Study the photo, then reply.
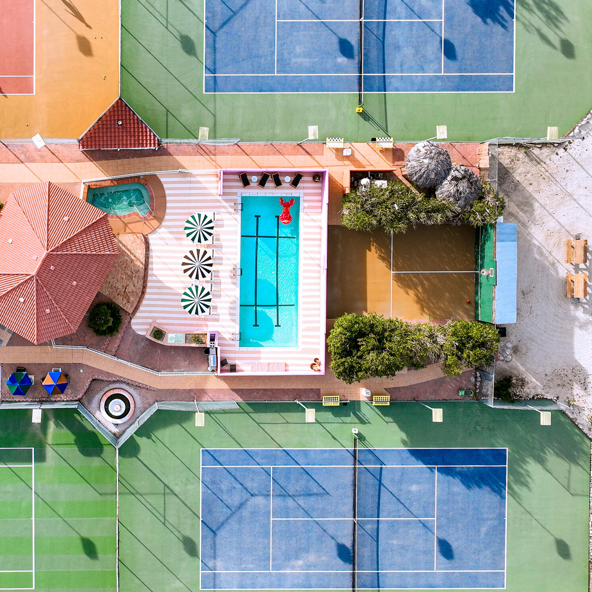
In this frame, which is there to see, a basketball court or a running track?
basketball court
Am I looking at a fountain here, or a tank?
fountain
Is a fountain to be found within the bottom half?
Yes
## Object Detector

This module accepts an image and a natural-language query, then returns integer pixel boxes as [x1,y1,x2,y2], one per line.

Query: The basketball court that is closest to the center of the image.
[331,224,477,320]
